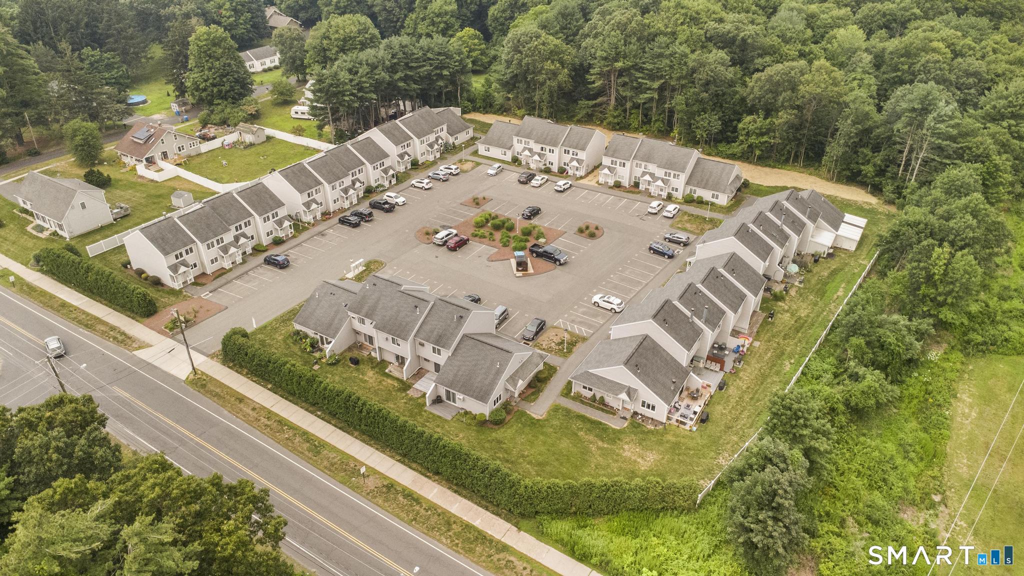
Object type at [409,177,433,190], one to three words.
vehicle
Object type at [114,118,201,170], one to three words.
house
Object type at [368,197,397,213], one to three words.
vehicle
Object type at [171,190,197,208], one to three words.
shed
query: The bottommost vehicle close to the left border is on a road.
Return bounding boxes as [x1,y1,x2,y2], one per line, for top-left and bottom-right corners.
[40,335,64,357]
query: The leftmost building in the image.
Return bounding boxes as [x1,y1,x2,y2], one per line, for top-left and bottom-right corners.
[11,173,118,239]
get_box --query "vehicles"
[529,175,550,186]
[426,169,450,182]
[519,316,548,340]
[460,291,482,303]
[433,229,458,245]
[646,199,665,213]
[409,177,433,190]
[646,240,677,258]
[40,335,64,357]
[485,163,505,175]
[661,203,680,218]
[520,205,543,219]
[516,170,537,183]
[336,213,362,228]
[591,294,625,311]
[531,245,568,264]
[437,163,461,175]
[261,252,290,268]
[553,179,573,192]
[368,197,397,213]
[348,207,375,222]
[382,190,408,205]
[445,234,470,250]
[494,303,510,320]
